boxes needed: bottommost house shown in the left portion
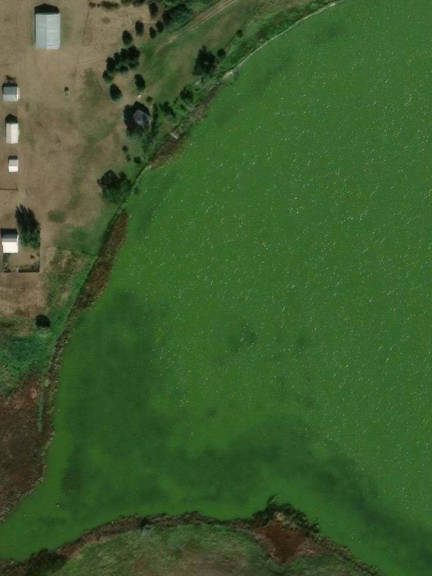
[0,233,19,253]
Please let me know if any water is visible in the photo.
Yes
